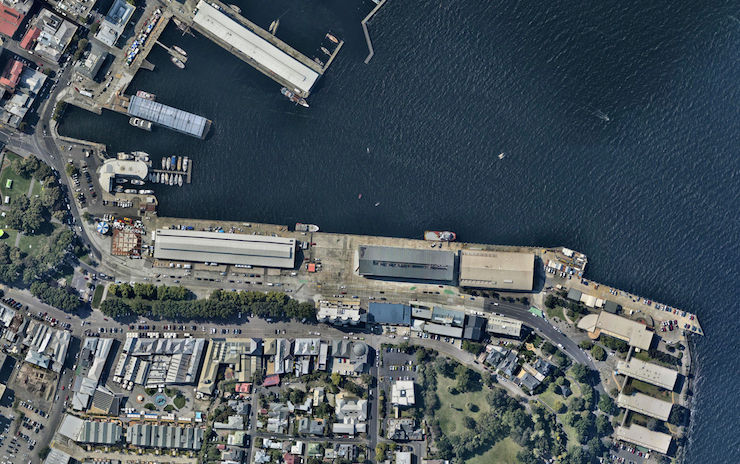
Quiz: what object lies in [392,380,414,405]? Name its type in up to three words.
building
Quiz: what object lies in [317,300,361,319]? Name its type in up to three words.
building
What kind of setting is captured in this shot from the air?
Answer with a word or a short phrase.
port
